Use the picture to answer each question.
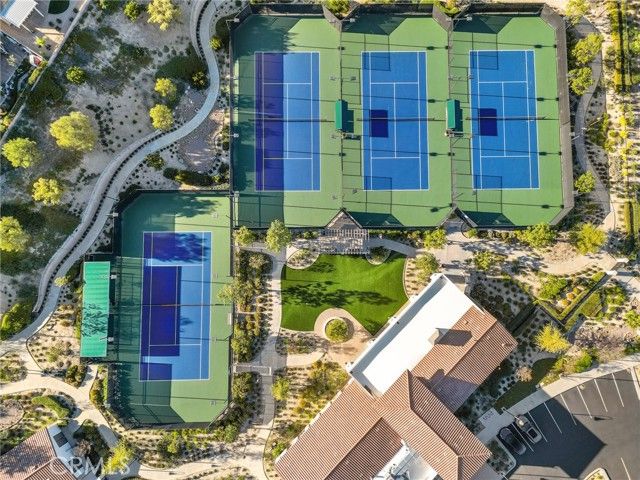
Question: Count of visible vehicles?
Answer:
two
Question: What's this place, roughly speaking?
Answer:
sports ground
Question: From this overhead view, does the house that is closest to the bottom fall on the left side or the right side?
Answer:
left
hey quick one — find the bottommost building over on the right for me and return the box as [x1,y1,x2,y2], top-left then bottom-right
[274,272,518,480]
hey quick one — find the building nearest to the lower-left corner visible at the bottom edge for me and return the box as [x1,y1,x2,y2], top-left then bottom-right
[0,416,108,480]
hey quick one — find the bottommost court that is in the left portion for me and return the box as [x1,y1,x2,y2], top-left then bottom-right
[118,194,232,424]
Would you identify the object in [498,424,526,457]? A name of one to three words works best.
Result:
car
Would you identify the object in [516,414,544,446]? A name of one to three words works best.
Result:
car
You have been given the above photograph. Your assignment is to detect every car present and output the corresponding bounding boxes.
[498,424,526,457]
[516,414,544,446]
